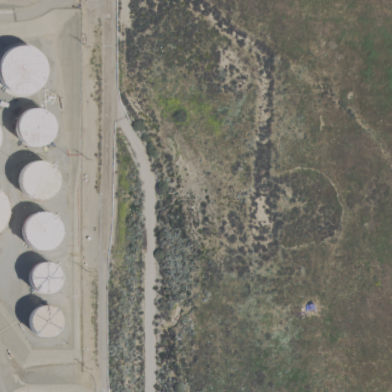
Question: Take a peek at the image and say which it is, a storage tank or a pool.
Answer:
storage tank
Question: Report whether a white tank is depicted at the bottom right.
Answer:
No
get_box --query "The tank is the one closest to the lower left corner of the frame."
[30,304,65,340]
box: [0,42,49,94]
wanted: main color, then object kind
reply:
white storage tank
